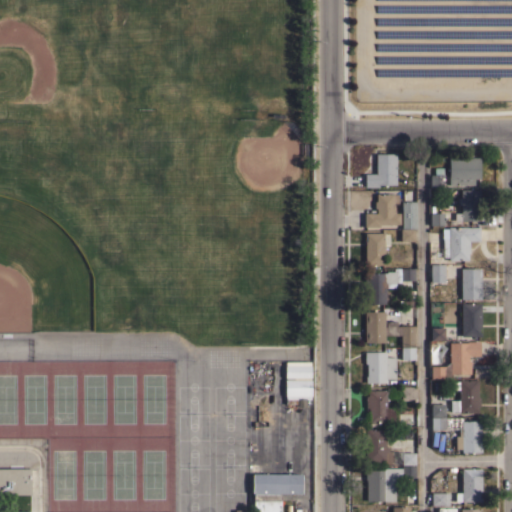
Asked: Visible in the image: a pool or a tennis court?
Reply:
tennis court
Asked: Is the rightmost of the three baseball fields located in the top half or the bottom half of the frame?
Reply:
top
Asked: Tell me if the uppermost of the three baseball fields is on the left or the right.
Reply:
left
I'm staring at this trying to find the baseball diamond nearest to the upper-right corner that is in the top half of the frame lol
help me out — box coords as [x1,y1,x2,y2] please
[235,122,304,194]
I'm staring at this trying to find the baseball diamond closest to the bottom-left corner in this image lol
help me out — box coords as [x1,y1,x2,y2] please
[0,196,94,332]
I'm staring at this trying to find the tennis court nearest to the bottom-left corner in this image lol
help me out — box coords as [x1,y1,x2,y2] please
[52,450,80,501]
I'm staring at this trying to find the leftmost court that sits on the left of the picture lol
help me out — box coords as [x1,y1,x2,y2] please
[0,375,20,426]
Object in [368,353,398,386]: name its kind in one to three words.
house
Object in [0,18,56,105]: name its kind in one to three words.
baseball field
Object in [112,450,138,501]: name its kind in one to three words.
tennis court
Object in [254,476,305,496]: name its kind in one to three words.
building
